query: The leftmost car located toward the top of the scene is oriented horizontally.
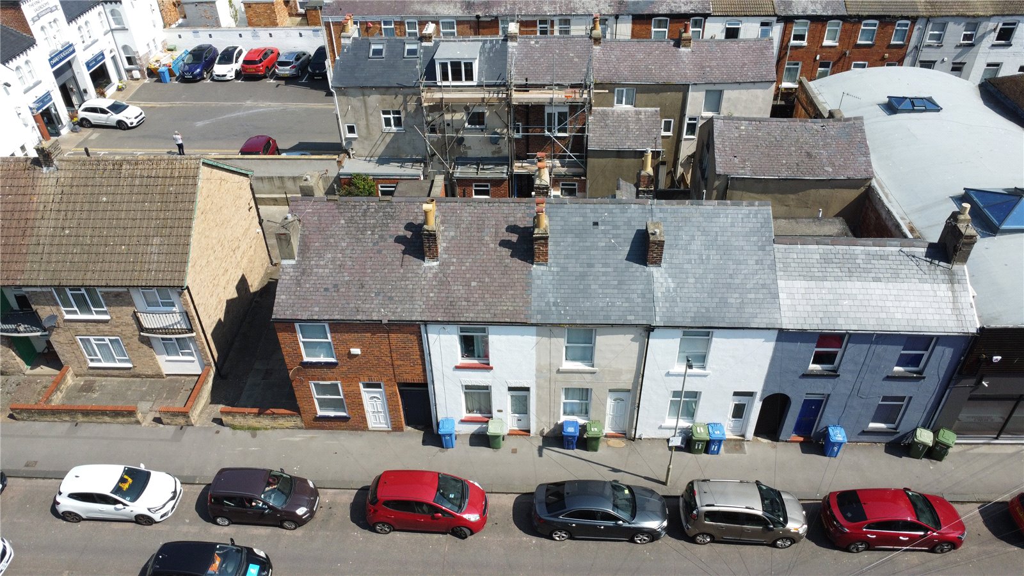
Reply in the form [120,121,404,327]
[76,97,144,130]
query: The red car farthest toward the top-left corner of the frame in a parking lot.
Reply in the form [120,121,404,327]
[244,48,281,77]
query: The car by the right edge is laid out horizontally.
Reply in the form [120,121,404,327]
[824,484,977,554]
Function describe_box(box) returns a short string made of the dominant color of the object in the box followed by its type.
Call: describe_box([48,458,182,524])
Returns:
white car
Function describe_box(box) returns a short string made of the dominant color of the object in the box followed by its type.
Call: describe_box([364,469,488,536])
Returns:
red car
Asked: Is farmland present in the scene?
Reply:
No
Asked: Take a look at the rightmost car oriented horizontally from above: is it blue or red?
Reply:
red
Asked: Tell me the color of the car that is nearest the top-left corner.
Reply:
white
